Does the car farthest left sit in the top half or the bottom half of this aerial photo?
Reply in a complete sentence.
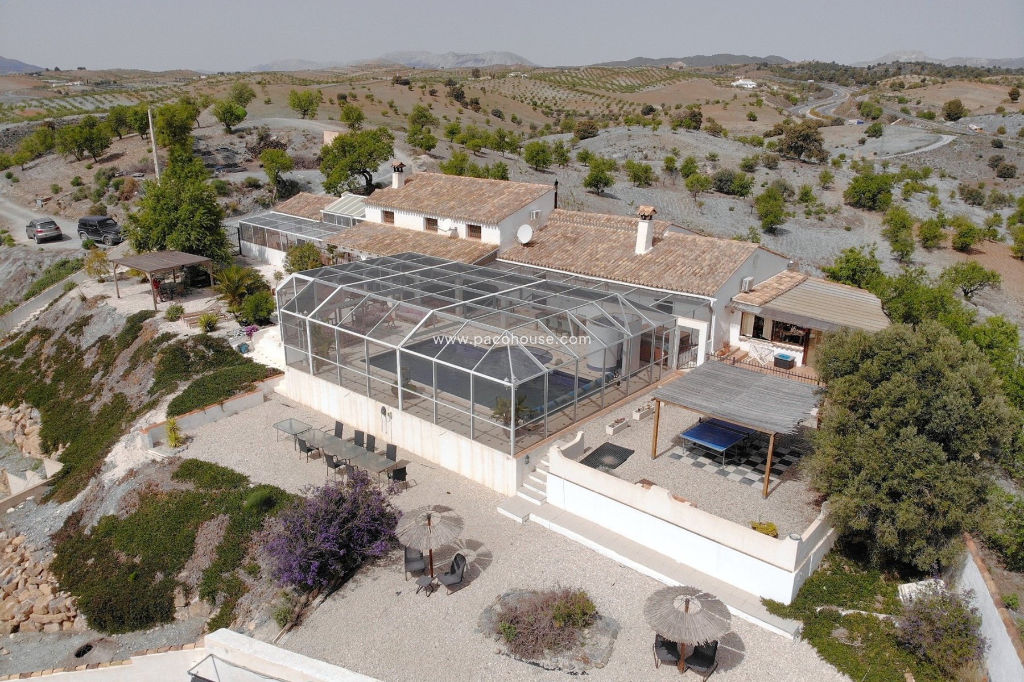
The car farthest left is in the top half of the image.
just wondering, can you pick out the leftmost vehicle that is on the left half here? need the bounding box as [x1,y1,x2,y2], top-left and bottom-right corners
[8,211,68,241]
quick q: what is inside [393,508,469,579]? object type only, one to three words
umbrella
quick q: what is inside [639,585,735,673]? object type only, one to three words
umbrella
